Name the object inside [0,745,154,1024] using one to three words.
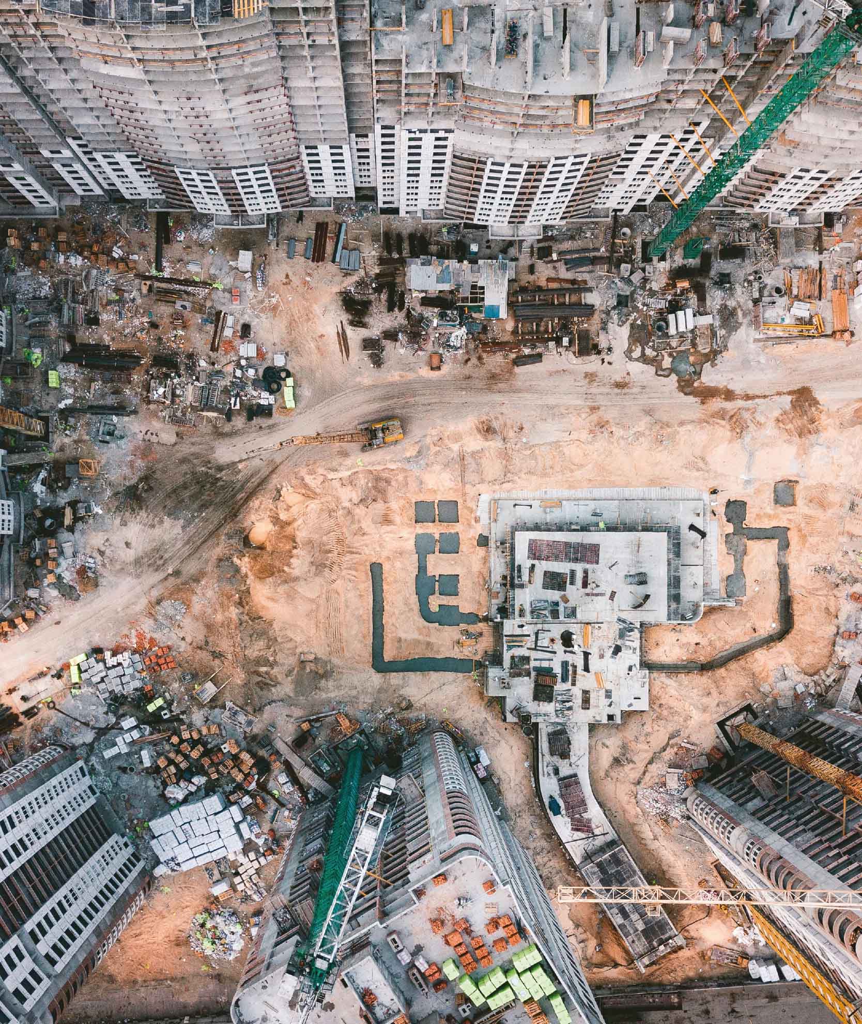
building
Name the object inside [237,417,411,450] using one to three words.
crane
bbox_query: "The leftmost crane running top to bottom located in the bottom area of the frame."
[280,729,407,1024]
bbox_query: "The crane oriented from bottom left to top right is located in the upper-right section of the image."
[650,0,862,265]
